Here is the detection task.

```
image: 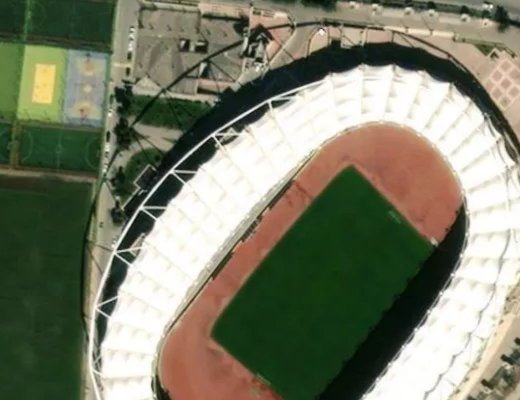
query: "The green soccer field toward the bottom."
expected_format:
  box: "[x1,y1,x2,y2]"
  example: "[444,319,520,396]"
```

[210,165,453,400]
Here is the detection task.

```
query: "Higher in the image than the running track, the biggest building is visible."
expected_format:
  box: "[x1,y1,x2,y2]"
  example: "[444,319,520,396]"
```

[240,26,269,67]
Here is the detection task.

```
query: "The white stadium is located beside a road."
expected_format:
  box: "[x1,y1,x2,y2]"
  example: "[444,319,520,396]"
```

[84,64,520,400]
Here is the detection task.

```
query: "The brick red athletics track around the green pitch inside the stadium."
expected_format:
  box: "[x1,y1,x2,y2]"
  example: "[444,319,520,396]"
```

[157,124,468,400]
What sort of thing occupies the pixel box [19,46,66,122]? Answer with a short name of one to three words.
sports court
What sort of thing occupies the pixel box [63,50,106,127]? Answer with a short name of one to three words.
basketball court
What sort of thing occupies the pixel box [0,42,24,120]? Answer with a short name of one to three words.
sports court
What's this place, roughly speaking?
sports ground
